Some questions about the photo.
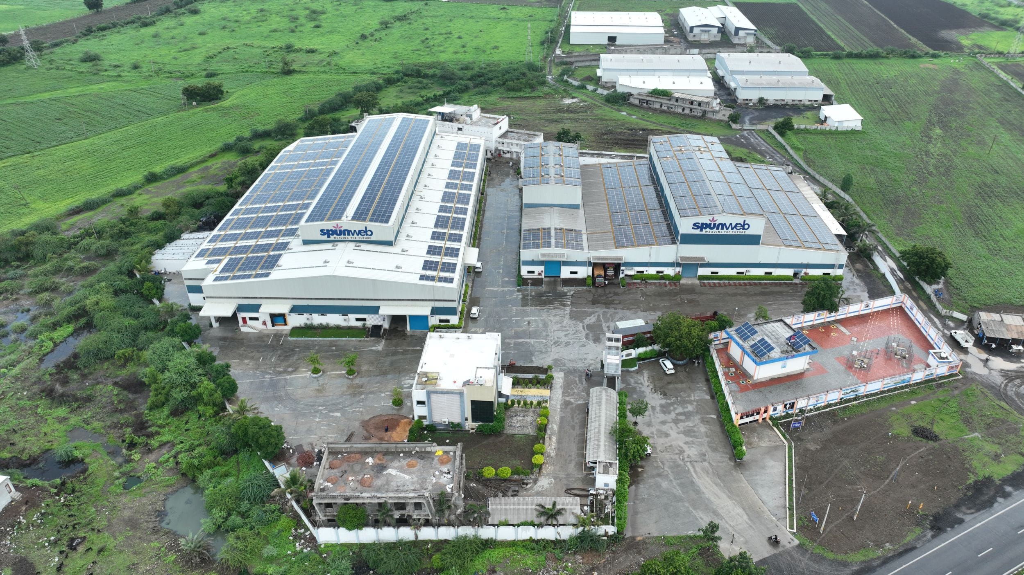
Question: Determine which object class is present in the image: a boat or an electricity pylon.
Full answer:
Of the two, only an electricity pylon appears.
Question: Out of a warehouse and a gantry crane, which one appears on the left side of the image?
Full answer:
Looking on the left side of the image, you will find a warehouse.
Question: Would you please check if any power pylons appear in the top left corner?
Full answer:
Yes, you'll find a power pylon in the top left corner.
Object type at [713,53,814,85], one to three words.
shed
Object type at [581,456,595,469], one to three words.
vehicle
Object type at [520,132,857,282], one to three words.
building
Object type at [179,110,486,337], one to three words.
warehouse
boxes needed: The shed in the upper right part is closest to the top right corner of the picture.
[819,105,864,131]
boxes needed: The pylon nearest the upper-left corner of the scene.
[6,8,43,69]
